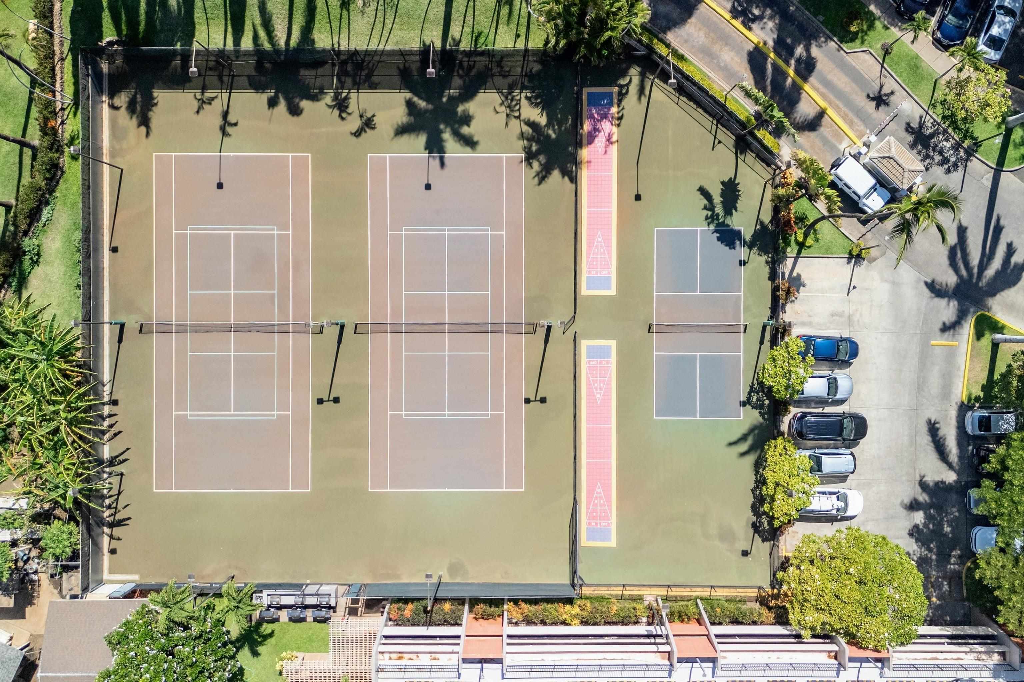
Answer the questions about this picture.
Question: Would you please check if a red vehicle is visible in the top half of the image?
No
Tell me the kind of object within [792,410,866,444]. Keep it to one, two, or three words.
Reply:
car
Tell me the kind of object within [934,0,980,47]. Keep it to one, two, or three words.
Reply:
car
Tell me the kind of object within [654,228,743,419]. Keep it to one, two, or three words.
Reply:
sports court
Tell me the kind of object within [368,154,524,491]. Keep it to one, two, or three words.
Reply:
tennis court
